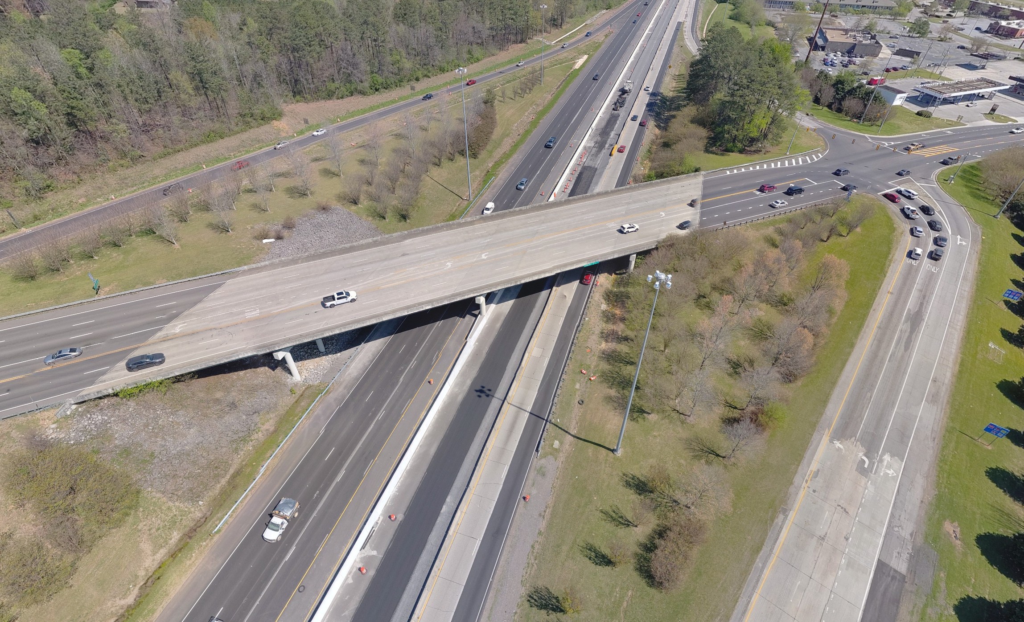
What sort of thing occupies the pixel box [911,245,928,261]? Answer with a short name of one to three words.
car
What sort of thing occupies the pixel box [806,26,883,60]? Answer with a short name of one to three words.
building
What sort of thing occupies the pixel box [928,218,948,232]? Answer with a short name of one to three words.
car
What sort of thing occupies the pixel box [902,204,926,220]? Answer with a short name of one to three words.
vehicle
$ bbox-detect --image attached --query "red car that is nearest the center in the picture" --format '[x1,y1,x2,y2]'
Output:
[581,271,594,286]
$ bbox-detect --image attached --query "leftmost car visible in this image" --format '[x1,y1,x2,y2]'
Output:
[39,347,83,366]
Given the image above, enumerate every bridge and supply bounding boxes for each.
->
[64,172,712,404]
